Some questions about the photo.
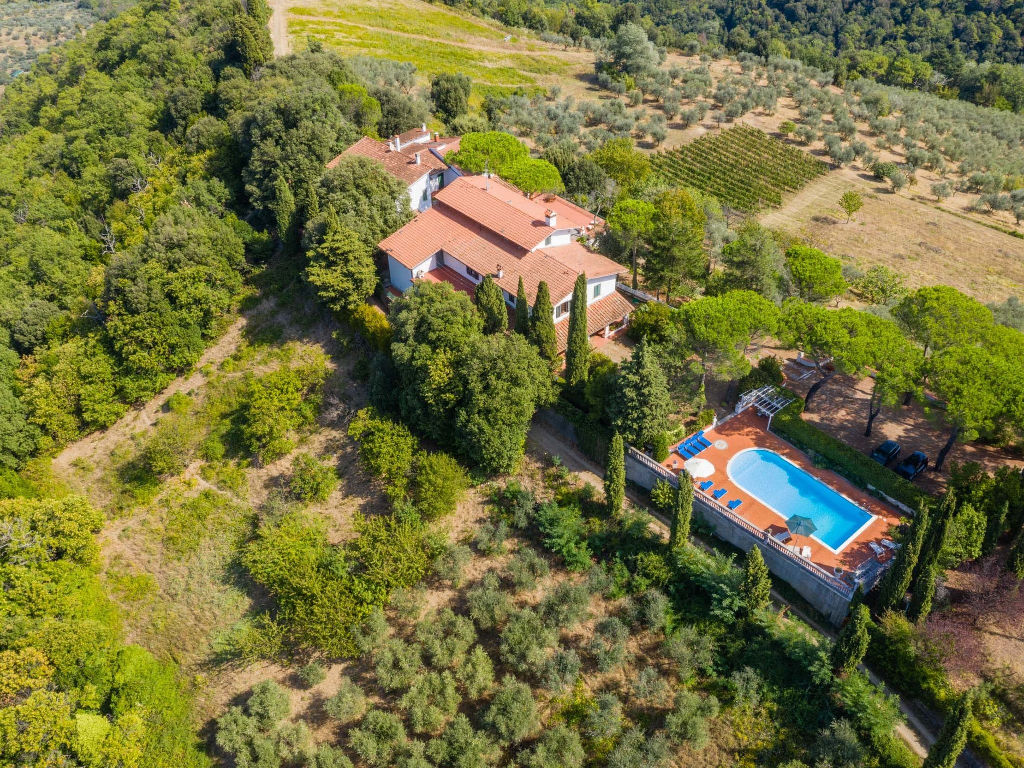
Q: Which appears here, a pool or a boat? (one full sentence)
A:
The one in the frame is a pool.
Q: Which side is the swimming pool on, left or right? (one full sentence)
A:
The swimming pool appears in the right half of the scene.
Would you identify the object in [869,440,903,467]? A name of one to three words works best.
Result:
car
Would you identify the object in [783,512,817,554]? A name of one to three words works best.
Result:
umbrella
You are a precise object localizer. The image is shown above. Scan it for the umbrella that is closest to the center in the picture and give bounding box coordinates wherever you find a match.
[684,457,715,485]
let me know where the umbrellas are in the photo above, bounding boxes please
[684,457,715,485]
[783,512,817,554]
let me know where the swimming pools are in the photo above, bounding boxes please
[727,448,878,554]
